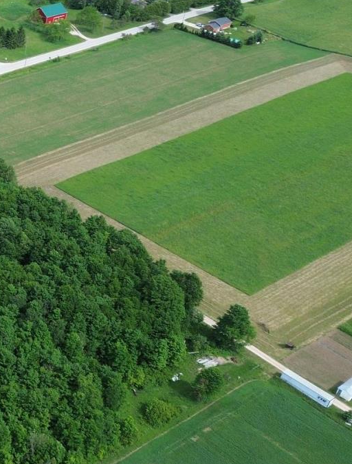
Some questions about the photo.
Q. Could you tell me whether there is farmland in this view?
Yes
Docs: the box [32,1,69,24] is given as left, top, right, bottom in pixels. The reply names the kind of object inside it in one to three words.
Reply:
barn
